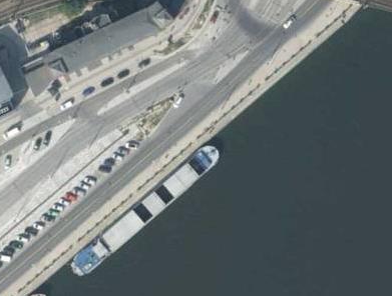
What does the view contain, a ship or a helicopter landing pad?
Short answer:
ship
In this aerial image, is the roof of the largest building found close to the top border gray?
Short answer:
Yes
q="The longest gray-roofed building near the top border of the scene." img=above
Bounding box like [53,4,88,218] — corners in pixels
[45,3,173,82]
